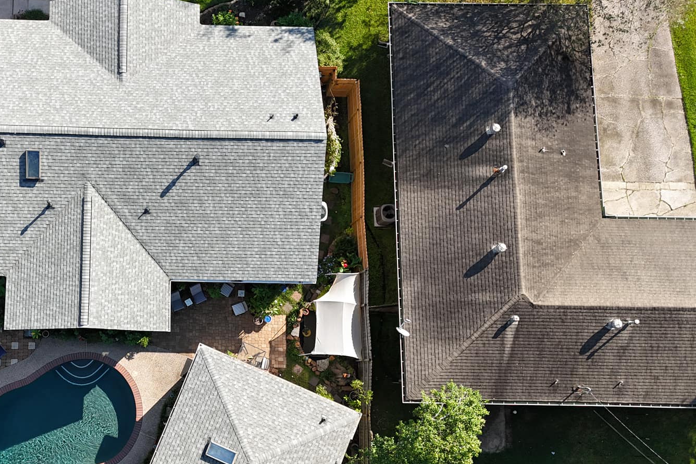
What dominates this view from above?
buildings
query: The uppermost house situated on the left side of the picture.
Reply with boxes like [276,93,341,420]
[0,0,325,332]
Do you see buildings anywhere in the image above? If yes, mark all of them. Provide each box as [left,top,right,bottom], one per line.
[369,0,696,407]
[0,0,325,332]
[147,342,363,464]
